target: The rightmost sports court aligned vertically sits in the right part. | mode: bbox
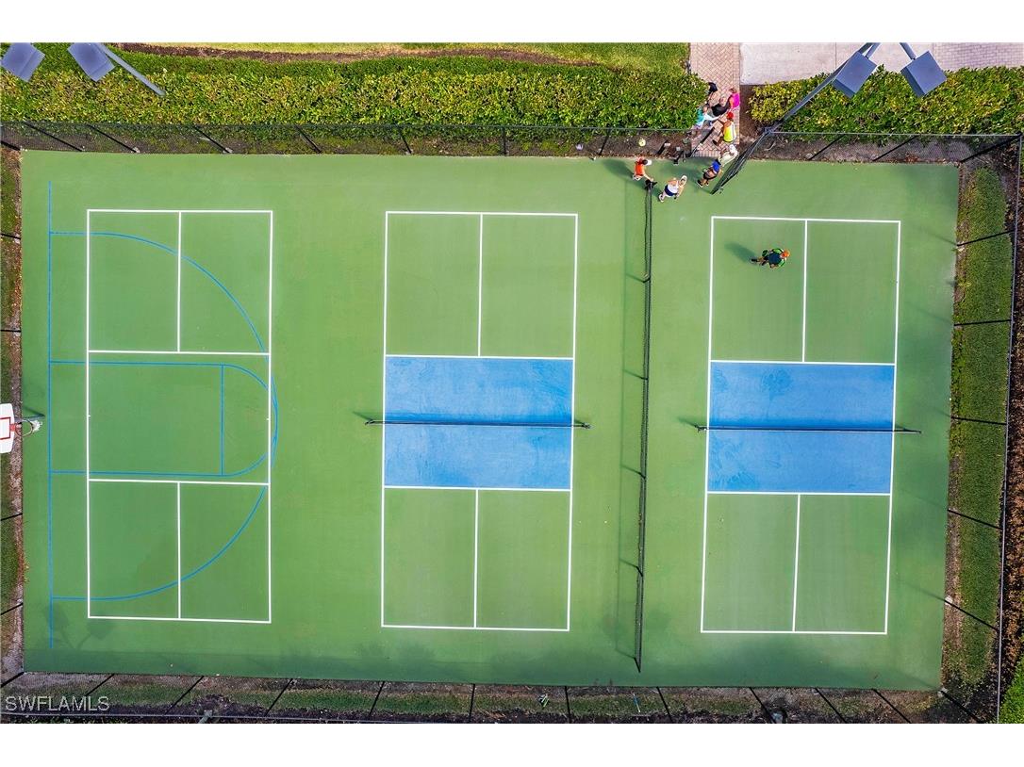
[700,216,901,636]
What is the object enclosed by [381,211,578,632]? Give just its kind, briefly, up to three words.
sports court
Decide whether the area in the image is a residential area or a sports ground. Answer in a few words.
sports ground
